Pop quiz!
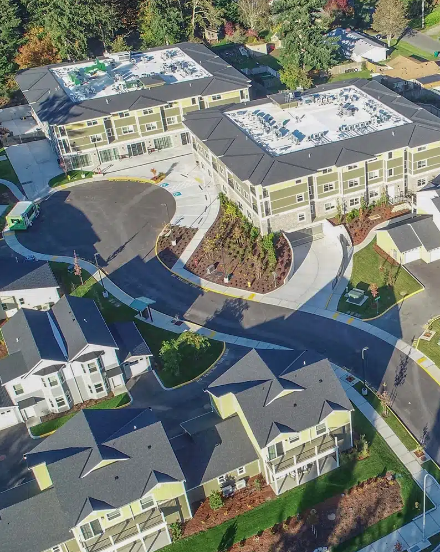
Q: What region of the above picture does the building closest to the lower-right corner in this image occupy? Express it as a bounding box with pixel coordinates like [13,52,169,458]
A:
[167,346,355,505]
